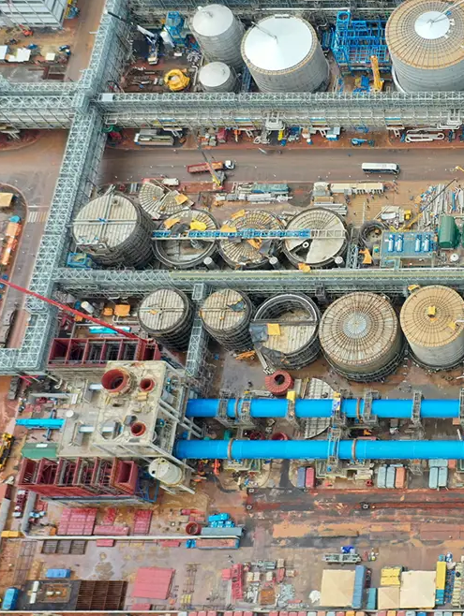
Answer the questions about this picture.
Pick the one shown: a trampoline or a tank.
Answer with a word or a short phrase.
tank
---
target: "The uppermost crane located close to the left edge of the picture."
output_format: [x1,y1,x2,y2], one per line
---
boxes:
[0,277,151,339]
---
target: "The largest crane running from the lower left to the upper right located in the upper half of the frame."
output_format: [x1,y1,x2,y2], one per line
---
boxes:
[390,178,458,238]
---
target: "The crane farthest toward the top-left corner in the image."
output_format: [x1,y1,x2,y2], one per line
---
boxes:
[104,11,164,72]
